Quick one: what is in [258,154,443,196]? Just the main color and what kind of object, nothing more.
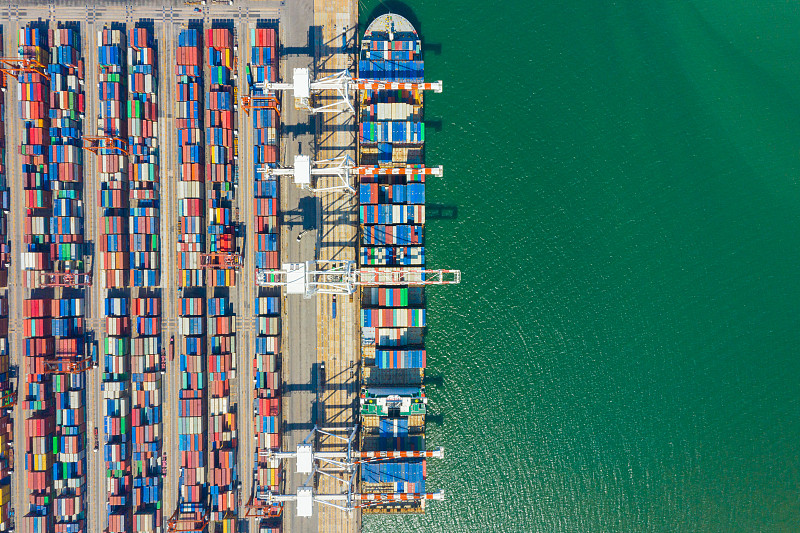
white container crane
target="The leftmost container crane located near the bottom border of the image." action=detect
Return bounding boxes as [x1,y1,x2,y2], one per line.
[165,503,209,531]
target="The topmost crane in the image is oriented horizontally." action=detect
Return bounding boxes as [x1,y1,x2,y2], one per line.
[0,58,51,82]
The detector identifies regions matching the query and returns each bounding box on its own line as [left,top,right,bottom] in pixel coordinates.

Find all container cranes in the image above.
[41,353,92,374]
[244,492,284,517]
[165,503,209,531]
[258,154,443,196]
[260,420,445,471]
[254,256,462,299]
[261,458,445,515]
[80,135,130,156]
[240,95,280,118]
[257,68,443,118]
[0,58,51,82]
[39,270,91,288]
[200,252,244,269]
